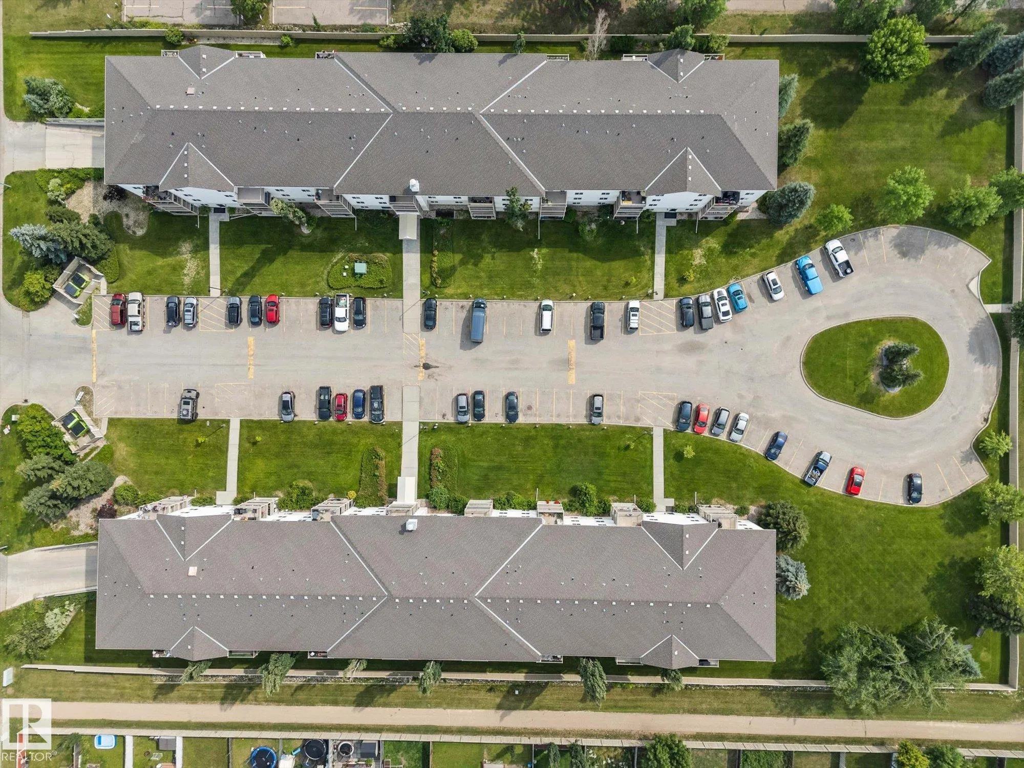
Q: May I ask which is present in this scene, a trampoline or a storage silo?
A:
trampoline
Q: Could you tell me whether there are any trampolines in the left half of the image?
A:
Yes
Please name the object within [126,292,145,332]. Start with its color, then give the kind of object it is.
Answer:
white vehicle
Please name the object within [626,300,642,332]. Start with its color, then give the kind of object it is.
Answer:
white car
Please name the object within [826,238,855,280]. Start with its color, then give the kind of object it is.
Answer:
white truck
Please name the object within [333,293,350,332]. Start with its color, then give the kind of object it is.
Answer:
white vehicle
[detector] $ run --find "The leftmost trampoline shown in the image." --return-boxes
[248,744,278,768]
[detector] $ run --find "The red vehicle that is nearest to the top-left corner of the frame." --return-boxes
[109,293,128,325]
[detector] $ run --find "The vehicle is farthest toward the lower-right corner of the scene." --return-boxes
[905,473,923,503]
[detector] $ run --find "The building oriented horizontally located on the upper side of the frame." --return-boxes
[103,44,780,239]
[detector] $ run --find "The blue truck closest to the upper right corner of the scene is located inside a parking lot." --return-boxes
[795,255,824,297]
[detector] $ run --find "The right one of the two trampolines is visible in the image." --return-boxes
[304,740,326,761]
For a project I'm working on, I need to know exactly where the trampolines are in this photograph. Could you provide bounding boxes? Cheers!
[304,740,326,761]
[248,744,278,768]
